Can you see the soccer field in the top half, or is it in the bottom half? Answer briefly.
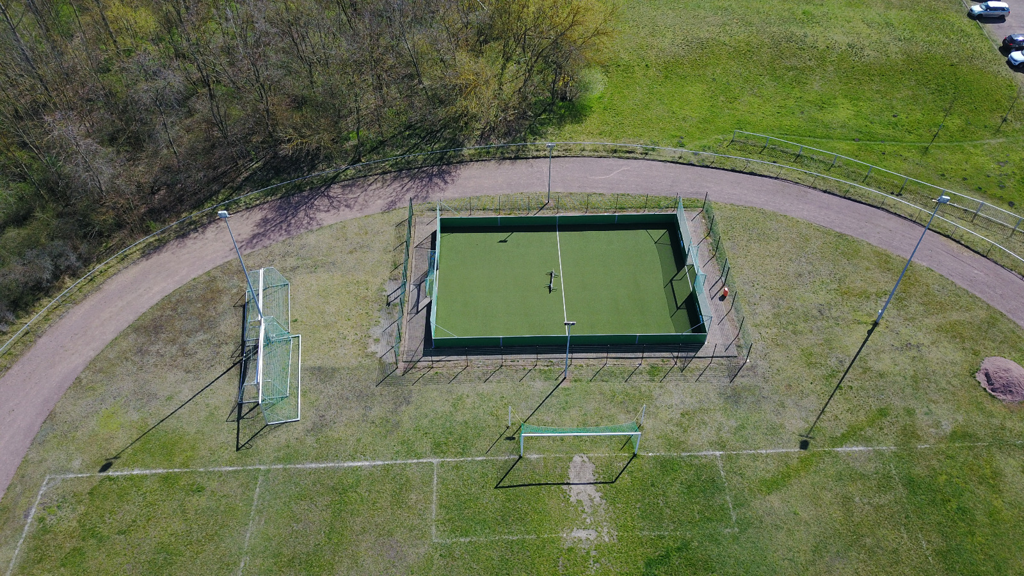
bottom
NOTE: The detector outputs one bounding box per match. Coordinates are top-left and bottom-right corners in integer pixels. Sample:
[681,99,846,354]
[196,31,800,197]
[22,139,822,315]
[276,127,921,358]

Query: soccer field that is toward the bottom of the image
[5,440,1024,576]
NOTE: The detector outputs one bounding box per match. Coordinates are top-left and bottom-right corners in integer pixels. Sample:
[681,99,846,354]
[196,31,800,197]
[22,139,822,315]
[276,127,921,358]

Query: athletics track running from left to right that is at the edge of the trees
[0,156,1024,492]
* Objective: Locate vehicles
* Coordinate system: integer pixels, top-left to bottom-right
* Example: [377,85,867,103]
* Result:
[1008,46,1024,65]
[966,2,1013,22]
[1001,28,1024,47]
